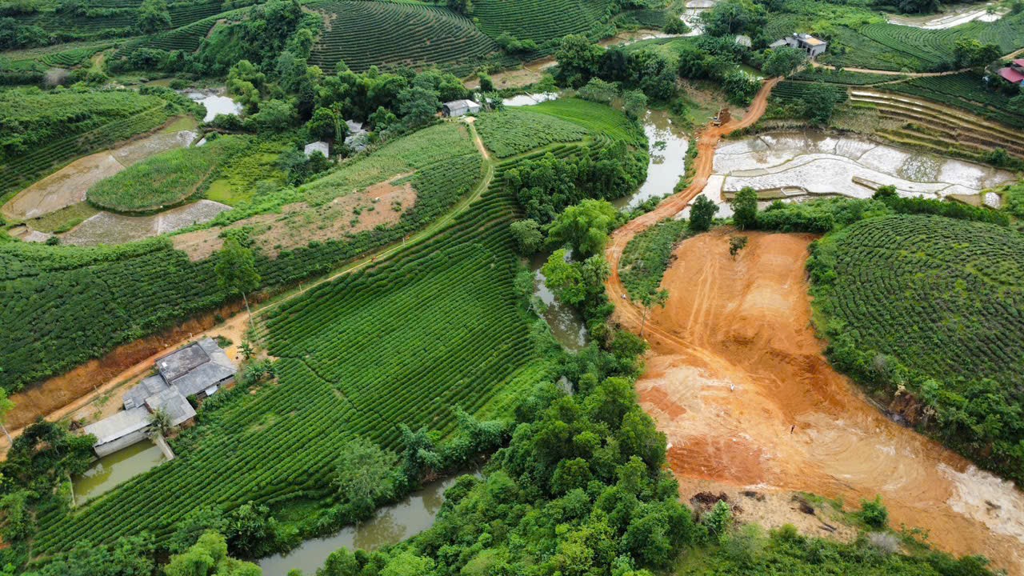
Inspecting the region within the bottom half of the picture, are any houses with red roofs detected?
No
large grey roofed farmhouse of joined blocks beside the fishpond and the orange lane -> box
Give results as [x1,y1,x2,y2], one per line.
[85,338,238,460]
